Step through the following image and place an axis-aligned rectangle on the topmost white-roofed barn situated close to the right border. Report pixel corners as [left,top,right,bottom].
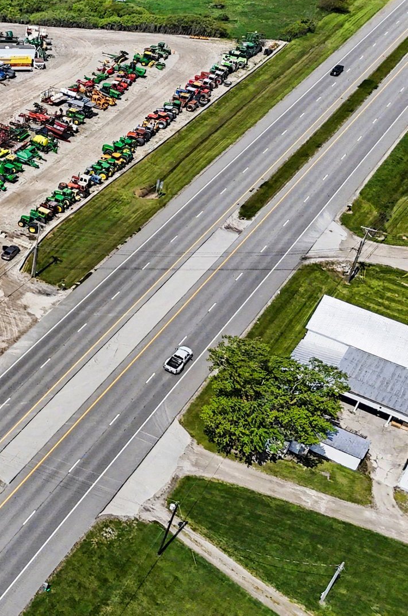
[290,295,408,426]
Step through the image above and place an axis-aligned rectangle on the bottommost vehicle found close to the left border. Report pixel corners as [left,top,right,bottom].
[0,245,22,260]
